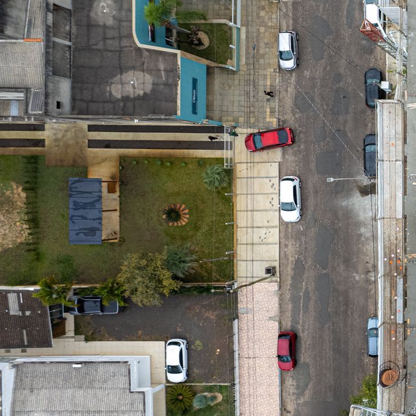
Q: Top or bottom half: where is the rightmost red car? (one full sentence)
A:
It is in the bottom half that the rightmost red car appears.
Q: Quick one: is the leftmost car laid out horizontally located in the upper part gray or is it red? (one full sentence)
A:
From above, the leftmost car laid out horizontally located in the upper part appears red.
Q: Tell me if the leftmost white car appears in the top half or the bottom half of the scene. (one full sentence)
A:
The leftmost white car is in the bottom half of the image.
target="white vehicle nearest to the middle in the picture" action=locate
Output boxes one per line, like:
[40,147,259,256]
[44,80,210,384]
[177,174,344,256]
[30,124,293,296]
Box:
[275,176,299,223]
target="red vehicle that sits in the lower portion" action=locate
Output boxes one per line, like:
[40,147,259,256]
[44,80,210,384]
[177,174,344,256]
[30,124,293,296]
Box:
[272,331,296,373]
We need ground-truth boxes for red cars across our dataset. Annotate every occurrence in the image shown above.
[243,127,292,152]
[272,331,296,373]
